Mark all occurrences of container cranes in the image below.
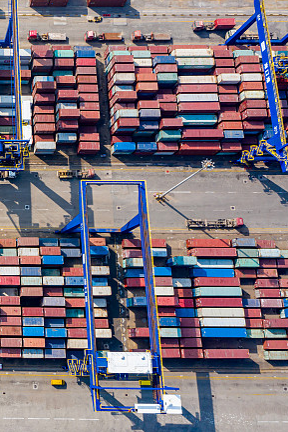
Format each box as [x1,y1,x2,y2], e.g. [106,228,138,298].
[0,0,37,172]
[218,0,288,174]
[55,176,187,416]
